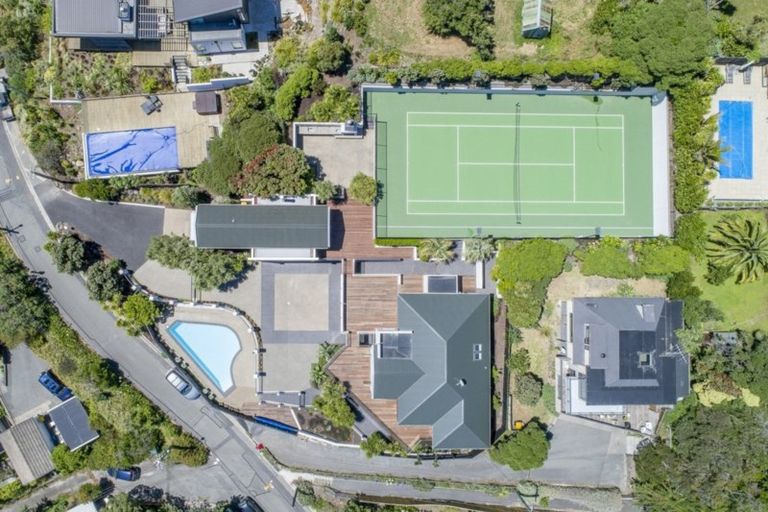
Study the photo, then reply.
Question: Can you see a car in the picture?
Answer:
Yes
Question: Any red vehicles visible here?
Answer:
No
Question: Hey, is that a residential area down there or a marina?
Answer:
residential area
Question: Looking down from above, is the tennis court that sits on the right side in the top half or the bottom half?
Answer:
top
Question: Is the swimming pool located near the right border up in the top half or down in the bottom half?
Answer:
top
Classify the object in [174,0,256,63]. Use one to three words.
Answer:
house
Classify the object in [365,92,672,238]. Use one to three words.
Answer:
tennis court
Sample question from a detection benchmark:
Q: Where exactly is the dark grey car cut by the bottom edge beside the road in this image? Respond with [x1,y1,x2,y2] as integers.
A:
[231,487,268,512]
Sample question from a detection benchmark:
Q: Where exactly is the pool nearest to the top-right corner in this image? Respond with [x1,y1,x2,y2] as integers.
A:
[718,100,752,179]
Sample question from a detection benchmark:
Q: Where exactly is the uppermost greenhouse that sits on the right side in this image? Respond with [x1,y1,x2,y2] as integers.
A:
[518,0,551,38]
